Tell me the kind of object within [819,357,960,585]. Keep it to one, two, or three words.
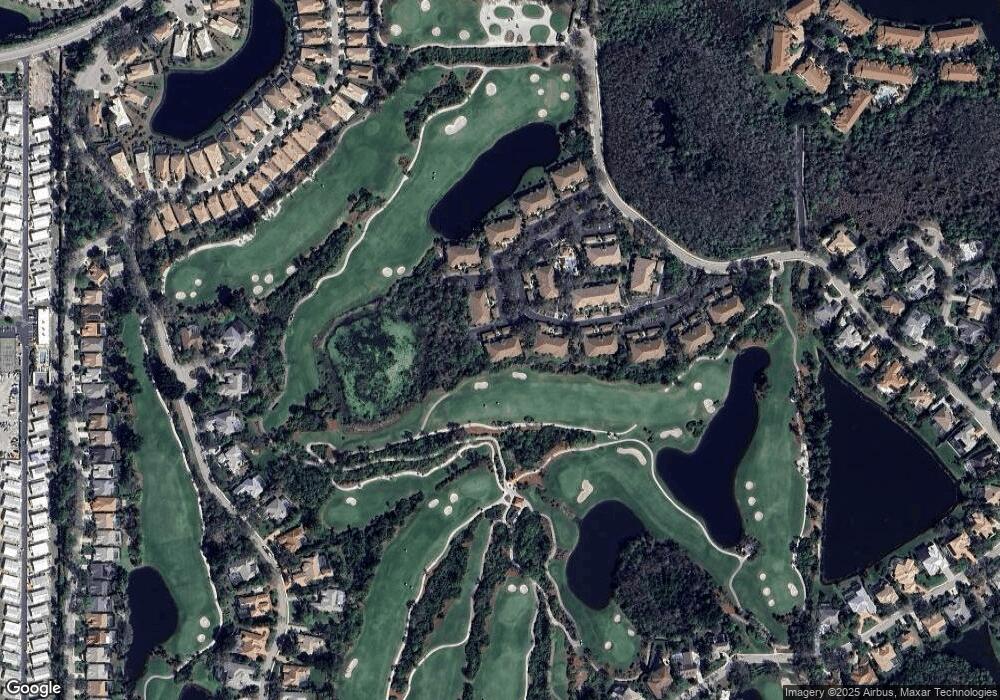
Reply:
pond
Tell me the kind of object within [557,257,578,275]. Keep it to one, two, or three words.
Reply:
swimming pool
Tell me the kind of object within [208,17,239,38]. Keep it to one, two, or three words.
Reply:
house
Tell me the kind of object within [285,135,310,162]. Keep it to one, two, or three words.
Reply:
house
